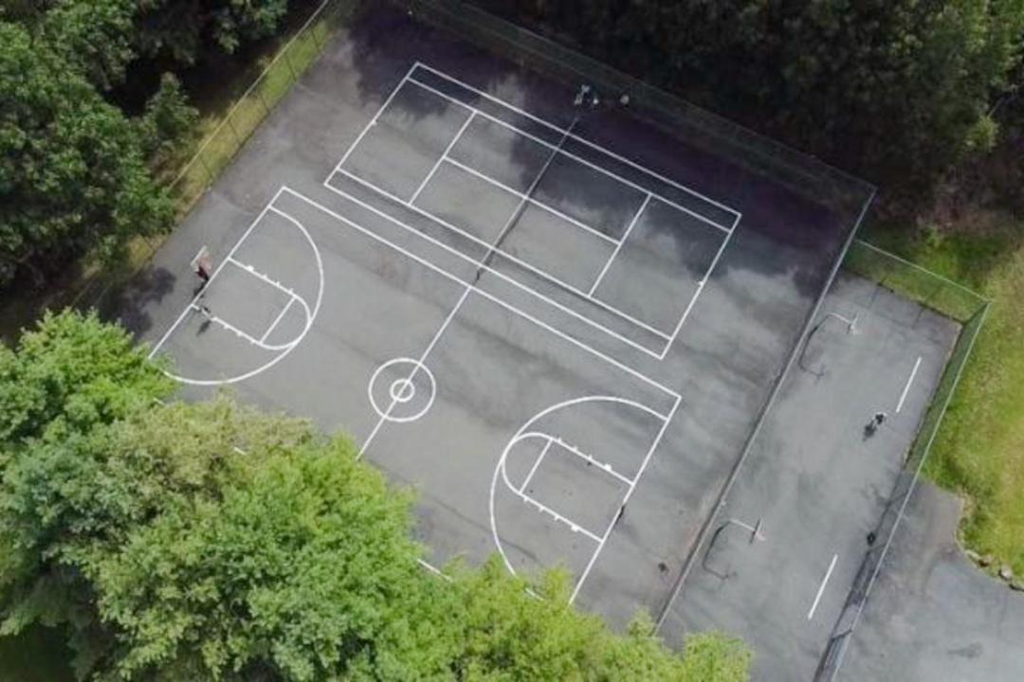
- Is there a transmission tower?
No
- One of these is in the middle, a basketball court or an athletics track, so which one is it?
basketball court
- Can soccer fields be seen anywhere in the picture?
No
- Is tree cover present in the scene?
Yes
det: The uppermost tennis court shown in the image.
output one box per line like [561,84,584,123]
[323,61,742,361]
